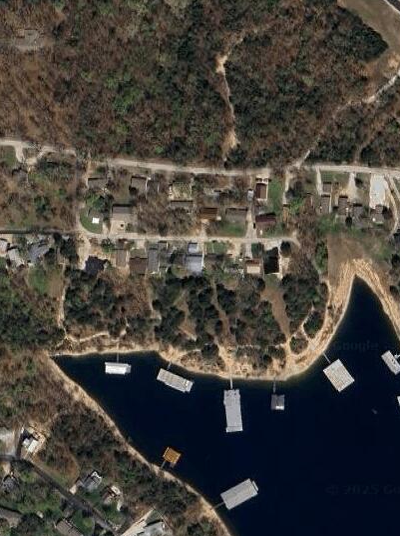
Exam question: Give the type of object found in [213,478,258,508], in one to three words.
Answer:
pier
